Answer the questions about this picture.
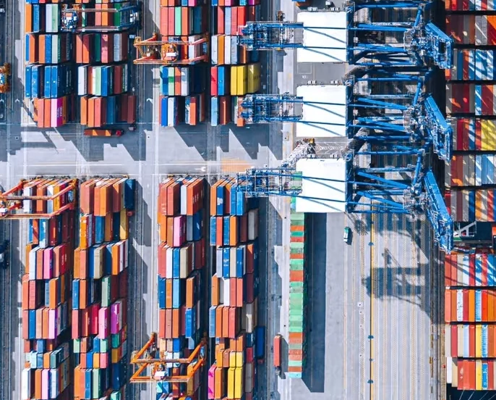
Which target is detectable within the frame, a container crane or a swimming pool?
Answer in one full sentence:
Looking from above, you can make out a container crane.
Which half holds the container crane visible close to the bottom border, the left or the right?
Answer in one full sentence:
It is on the left.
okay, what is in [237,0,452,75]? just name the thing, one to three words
container crane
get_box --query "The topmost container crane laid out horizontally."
[55,0,139,36]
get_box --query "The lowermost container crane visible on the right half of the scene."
[237,124,452,253]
